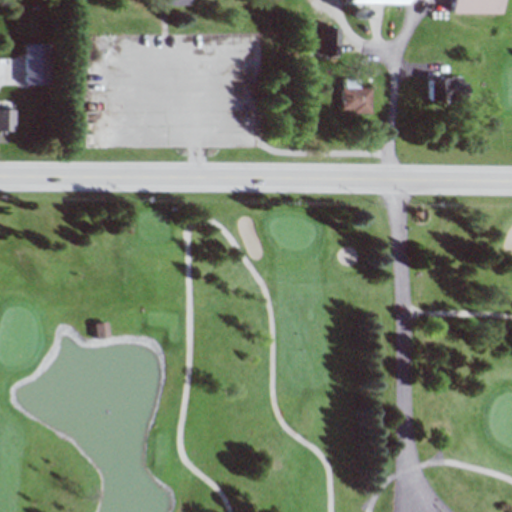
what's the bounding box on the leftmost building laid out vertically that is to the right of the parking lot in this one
[327,27,340,56]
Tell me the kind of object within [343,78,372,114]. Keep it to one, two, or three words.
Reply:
house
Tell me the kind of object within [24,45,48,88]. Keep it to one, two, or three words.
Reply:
house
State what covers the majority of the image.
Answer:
grass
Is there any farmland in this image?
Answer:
No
